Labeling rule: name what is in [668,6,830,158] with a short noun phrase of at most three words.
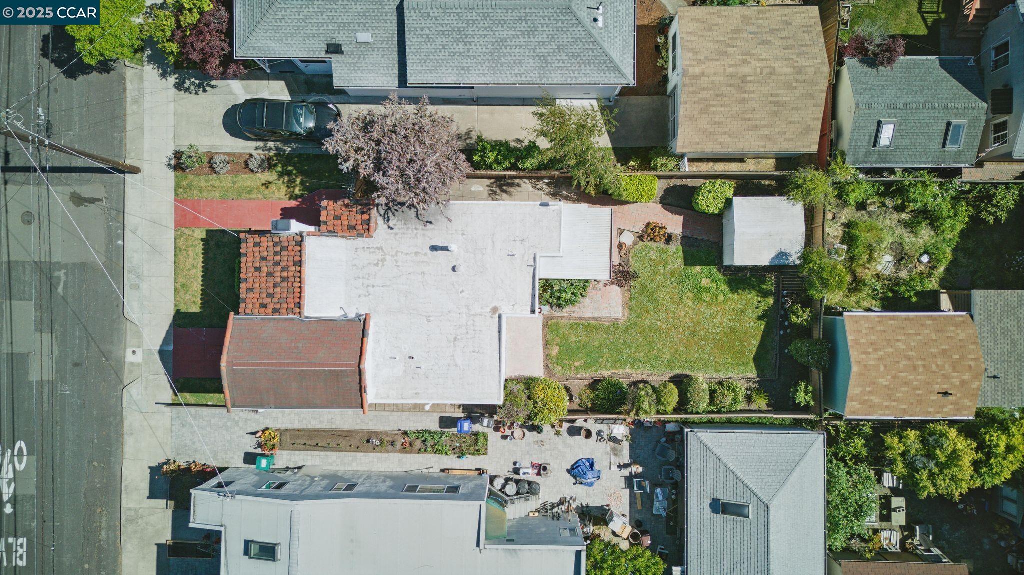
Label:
building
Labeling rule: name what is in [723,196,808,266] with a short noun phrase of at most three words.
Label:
shed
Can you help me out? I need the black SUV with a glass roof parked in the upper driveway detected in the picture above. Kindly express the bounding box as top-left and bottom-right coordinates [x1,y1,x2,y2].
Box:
[239,97,342,141]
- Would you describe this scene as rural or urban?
urban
